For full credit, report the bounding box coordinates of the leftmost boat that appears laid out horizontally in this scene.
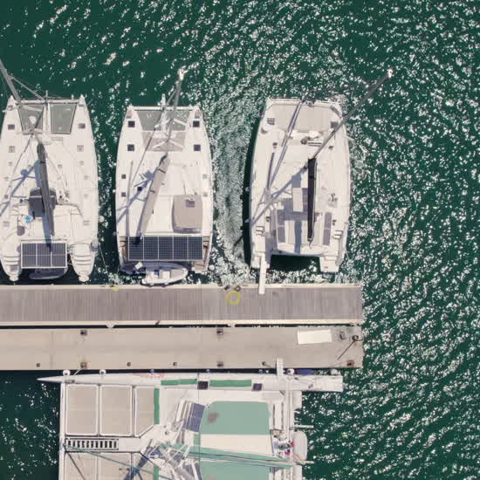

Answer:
[31,267,68,281]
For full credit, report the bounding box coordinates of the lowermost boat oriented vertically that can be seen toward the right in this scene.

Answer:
[296,431,308,459]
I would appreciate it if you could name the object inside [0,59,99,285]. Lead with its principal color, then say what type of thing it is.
white boat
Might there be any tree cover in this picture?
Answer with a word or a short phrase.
No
